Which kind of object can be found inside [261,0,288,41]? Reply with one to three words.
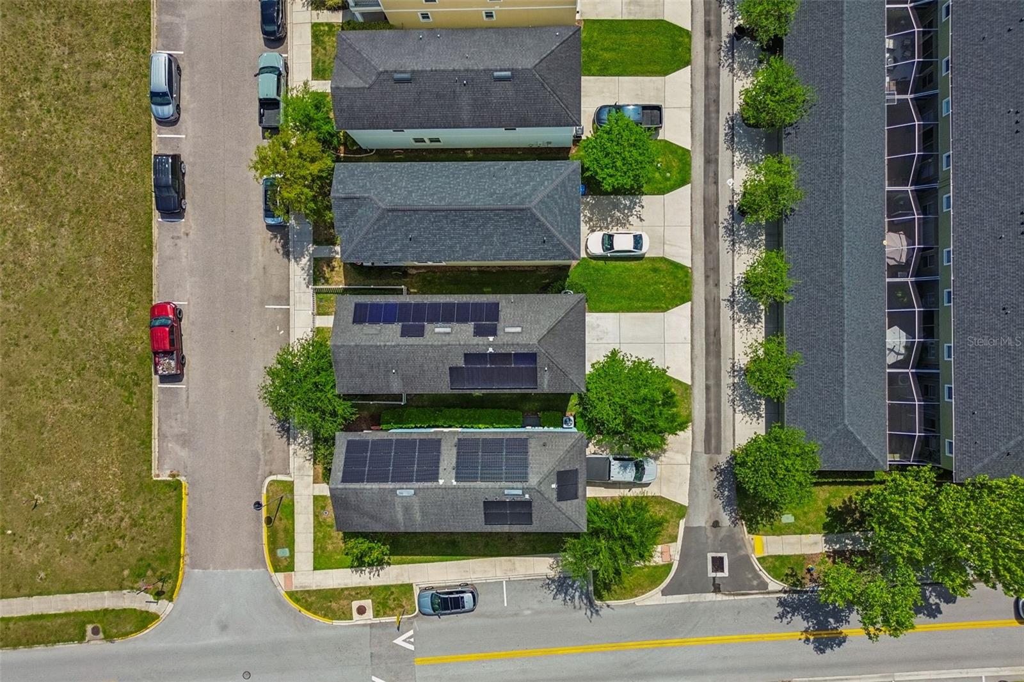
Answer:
car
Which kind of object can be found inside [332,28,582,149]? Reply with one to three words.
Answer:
house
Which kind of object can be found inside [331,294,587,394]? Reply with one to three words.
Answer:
house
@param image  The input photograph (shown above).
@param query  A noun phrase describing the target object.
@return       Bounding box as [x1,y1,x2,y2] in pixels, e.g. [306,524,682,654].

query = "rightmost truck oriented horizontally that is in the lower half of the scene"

[586,453,658,485]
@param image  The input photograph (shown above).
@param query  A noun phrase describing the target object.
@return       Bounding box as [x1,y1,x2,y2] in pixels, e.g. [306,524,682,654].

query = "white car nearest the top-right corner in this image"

[585,229,648,258]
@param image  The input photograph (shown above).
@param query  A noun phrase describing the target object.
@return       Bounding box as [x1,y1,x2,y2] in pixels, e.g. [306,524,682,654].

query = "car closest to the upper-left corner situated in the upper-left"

[148,56,183,124]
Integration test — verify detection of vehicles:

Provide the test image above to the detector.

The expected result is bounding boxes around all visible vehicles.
[593,101,663,134]
[149,303,186,377]
[418,585,479,620]
[153,157,188,214]
[148,56,183,124]
[585,229,648,258]
[255,54,290,130]
[586,453,658,485]
[261,0,288,41]
[260,176,290,229]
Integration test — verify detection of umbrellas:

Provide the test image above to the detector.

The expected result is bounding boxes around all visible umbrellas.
[888,230,916,266]
[888,326,913,365]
